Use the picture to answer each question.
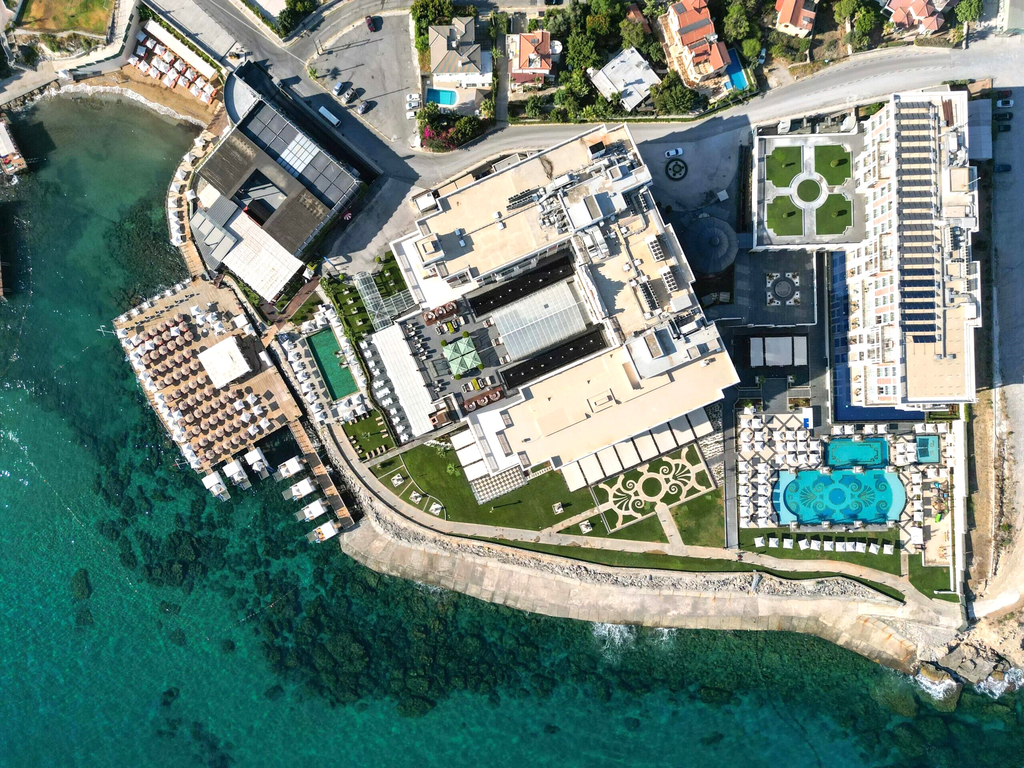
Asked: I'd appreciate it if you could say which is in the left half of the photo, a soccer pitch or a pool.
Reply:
pool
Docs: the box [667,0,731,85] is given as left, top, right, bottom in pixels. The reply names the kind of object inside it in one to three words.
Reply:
house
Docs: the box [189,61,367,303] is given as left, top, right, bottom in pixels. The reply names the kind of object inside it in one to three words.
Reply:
building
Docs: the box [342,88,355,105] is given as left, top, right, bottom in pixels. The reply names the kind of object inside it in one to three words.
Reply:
vehicle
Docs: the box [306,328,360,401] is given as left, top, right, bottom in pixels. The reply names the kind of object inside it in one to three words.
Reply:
swimming pool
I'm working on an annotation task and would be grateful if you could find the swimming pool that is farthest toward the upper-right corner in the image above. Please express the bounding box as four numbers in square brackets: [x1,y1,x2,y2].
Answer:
[725,47,750,92]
